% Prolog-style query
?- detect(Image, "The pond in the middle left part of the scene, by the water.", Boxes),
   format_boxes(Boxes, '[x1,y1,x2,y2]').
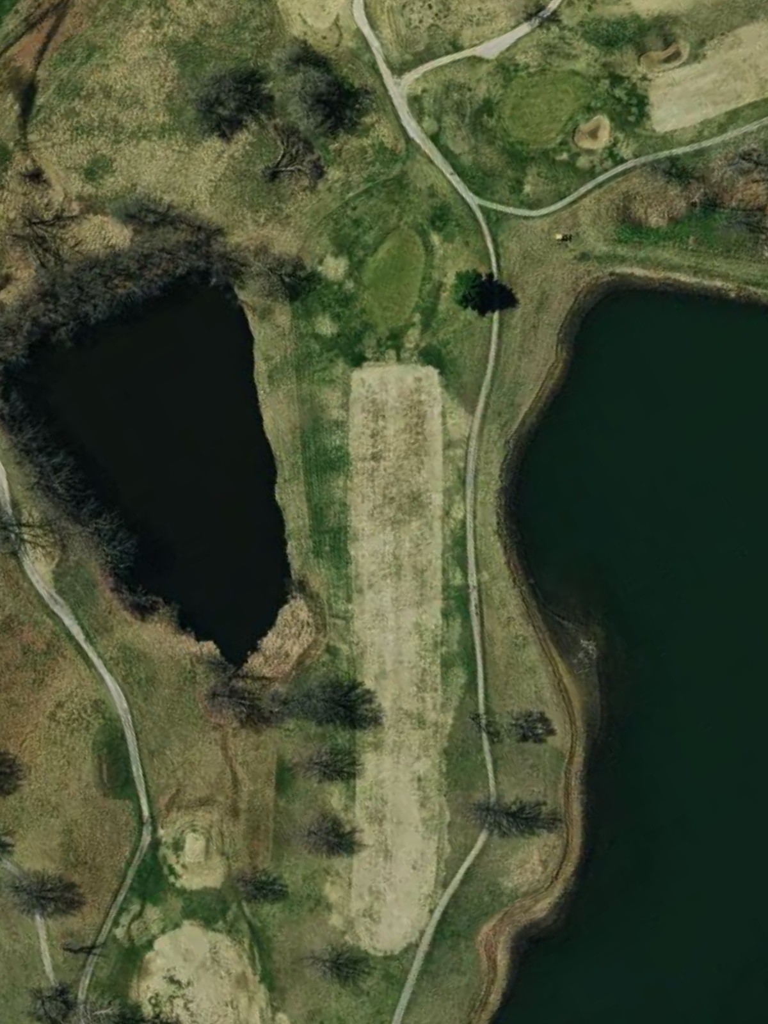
[2,274,291,667]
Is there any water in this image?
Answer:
Yes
